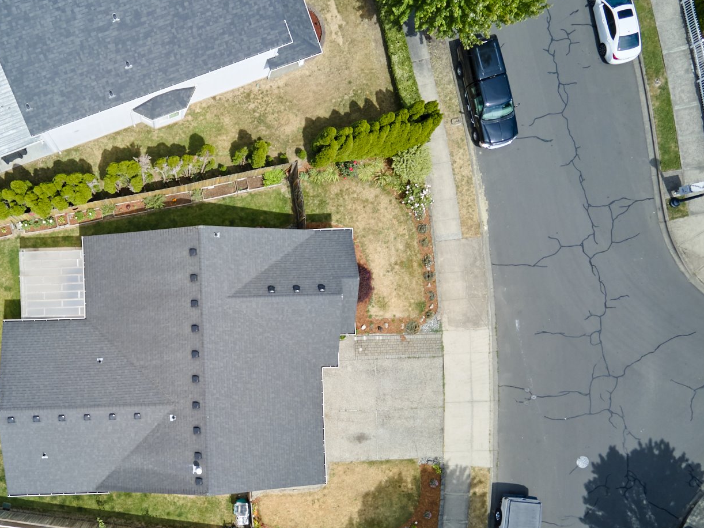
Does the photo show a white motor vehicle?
Yes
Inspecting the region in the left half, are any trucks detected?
No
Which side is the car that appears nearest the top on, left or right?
right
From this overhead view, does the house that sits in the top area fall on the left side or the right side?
left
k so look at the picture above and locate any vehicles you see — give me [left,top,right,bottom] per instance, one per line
[585,0,640,67]
[457,36,522,153]
[492,486,539,528]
